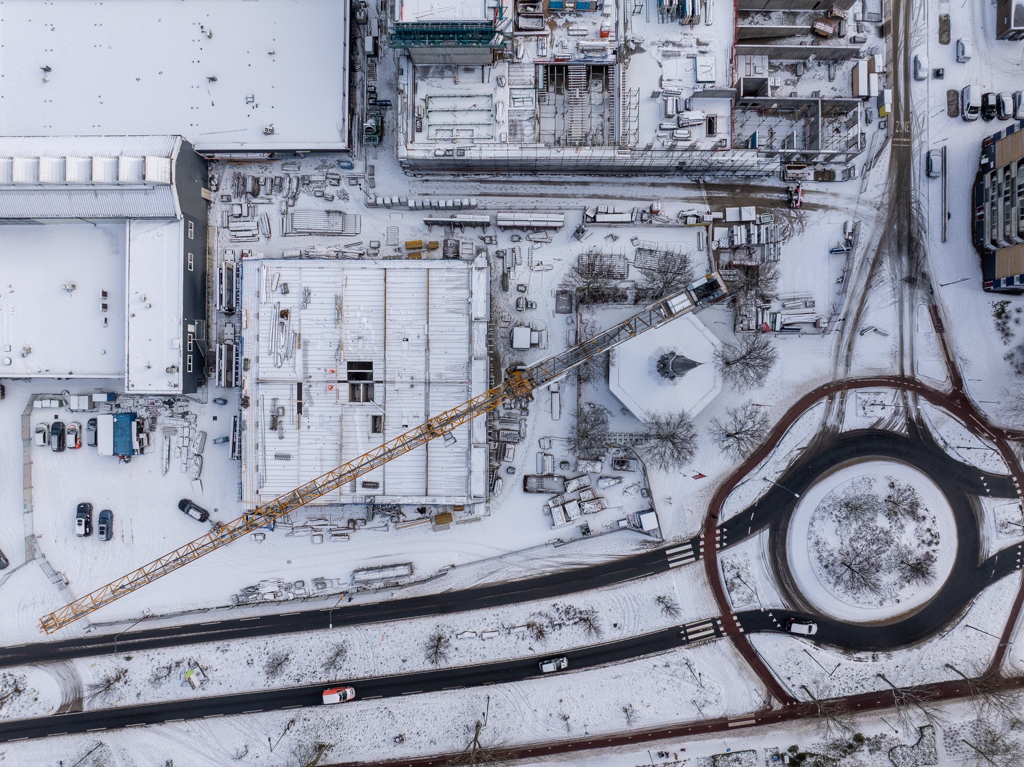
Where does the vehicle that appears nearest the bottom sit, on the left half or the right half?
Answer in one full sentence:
The vehicle that appears nearest the bottom appears in the left half of the scene.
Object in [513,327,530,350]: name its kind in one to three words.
shed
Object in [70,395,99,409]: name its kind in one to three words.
shed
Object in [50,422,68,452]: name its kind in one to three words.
car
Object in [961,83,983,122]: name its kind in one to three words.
vehicle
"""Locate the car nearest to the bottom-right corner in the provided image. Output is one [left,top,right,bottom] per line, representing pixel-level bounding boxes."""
[783,617,816,635]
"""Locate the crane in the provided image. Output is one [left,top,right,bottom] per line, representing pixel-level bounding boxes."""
[33,266,742,633]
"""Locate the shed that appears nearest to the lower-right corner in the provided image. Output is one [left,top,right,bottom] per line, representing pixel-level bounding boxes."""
[637,508,659,532]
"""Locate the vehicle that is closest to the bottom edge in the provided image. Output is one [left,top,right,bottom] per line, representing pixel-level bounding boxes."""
[320,684,356,706]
